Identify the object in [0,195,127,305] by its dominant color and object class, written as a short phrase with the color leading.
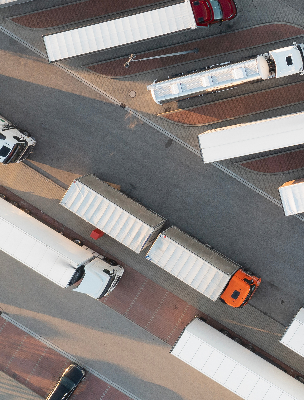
white truck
